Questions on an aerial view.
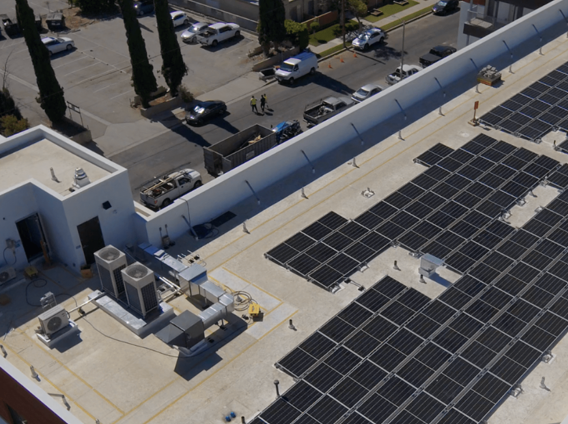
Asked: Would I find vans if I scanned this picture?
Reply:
Yes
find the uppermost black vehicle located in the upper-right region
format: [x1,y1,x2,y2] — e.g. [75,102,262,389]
[432,0,458,14]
